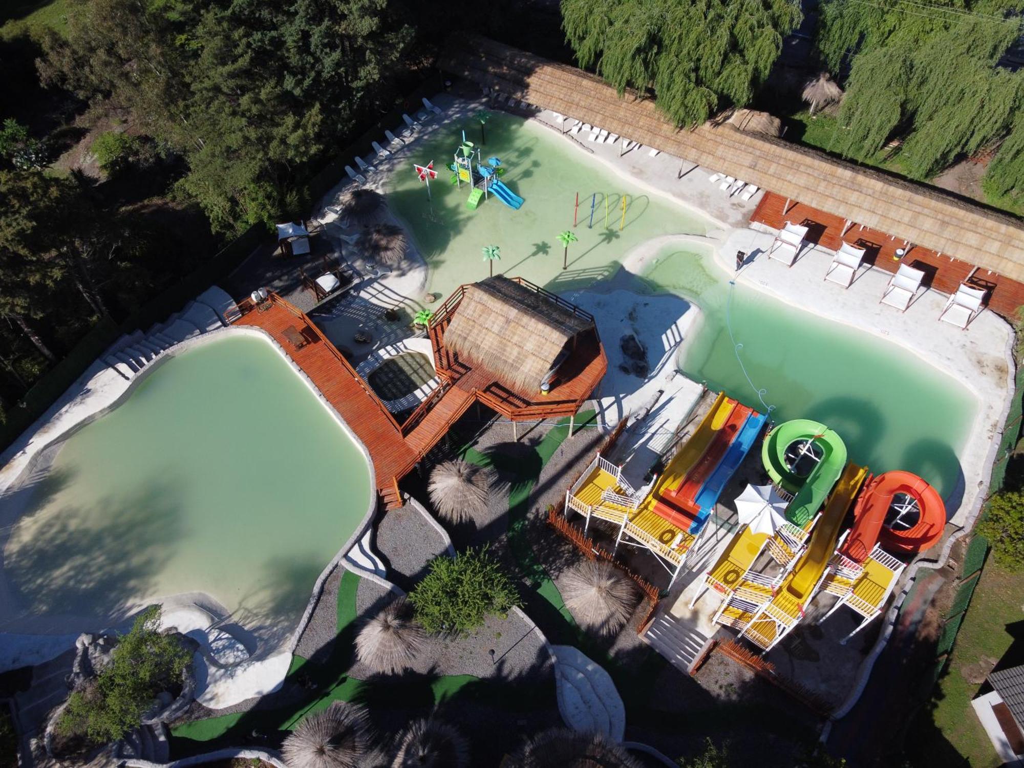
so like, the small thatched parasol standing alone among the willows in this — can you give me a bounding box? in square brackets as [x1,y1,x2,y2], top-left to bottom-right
[789,74,843,119]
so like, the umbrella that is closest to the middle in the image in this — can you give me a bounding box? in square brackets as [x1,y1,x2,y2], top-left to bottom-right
[425,457,500,520]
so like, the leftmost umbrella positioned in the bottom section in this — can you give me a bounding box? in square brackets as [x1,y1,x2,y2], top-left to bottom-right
[282,701,381,768]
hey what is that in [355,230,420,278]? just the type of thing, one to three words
umbrella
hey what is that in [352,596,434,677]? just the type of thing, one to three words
umbrella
